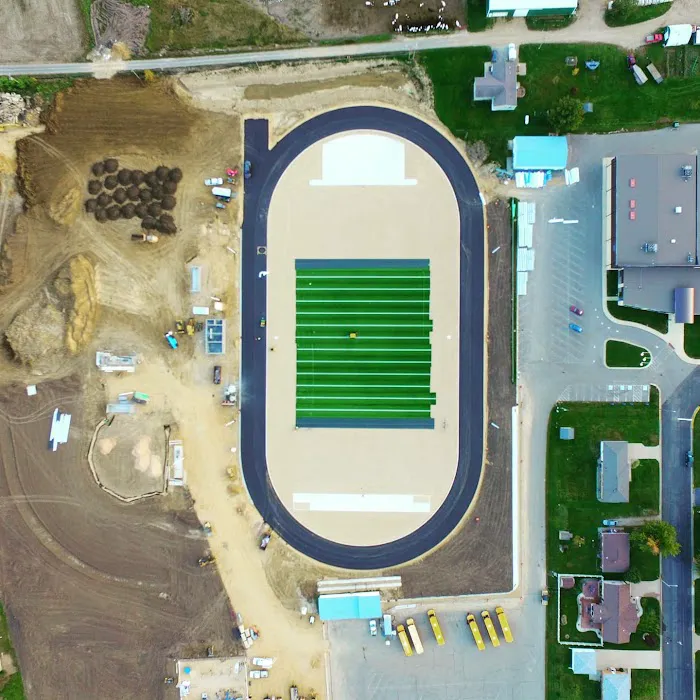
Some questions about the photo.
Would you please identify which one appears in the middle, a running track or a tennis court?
running track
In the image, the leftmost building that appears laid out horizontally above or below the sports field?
below it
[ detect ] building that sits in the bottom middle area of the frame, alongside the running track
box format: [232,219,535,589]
[319,589,382,621]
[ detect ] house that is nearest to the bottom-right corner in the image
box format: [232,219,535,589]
[600,668,630,700]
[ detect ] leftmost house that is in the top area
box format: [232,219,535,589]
[474,59,517,108]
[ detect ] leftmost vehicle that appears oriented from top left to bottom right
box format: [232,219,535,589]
[165,333,179,350]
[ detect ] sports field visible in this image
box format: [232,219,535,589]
[266,130,459,546]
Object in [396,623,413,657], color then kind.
yellow vehicle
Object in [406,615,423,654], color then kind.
white vehicle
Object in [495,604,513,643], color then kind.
yellow vehicle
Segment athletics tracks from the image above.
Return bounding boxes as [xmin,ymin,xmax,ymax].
[241,106,483,569]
